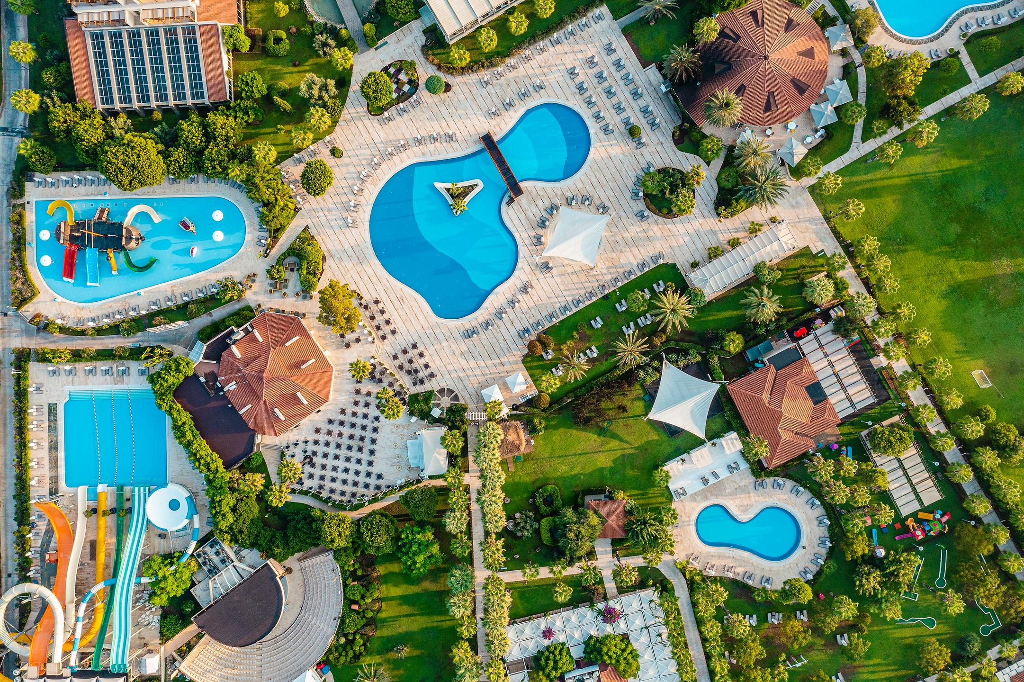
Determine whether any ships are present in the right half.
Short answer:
No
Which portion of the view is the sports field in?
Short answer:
right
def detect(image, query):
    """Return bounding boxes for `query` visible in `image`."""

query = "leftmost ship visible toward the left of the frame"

[52,208,147,252]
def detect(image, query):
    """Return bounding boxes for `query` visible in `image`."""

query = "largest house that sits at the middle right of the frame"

[726,342,842,470]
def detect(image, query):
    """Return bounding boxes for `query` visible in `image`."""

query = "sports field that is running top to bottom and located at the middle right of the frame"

[814,70,1024,556]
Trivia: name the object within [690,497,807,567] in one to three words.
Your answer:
swimming pool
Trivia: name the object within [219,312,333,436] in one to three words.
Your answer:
building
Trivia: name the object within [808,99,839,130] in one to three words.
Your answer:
umbrella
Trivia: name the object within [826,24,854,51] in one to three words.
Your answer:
umbrella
